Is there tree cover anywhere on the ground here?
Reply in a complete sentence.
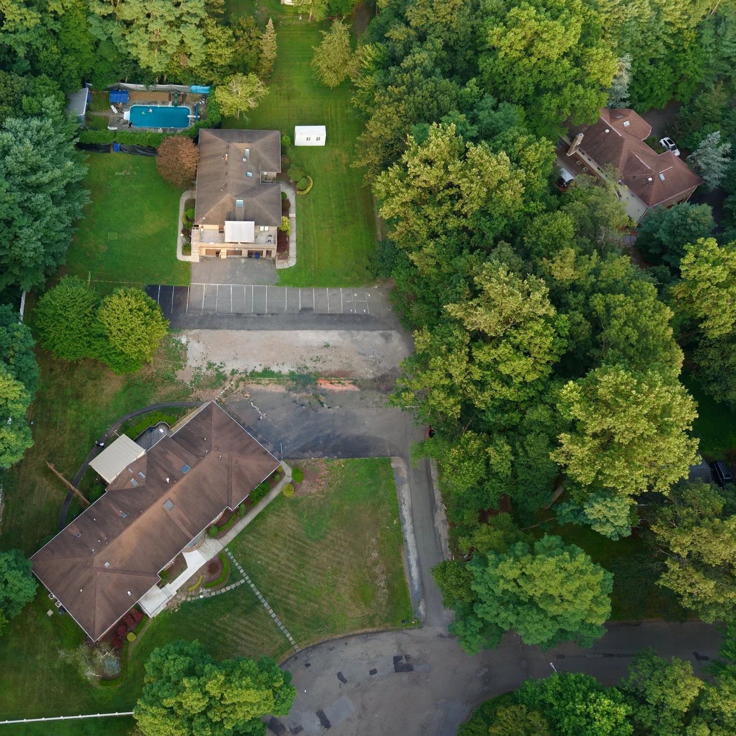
Yes, tree cover can be seen from above here.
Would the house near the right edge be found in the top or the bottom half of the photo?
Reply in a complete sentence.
Seen from above, the house near the right edge lies in the top half of the view.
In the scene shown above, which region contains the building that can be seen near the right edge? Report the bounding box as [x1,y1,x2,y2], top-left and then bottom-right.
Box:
[556,108,705,217]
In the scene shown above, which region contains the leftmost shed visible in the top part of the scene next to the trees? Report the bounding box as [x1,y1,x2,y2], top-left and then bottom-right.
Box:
[69,87,88,125]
